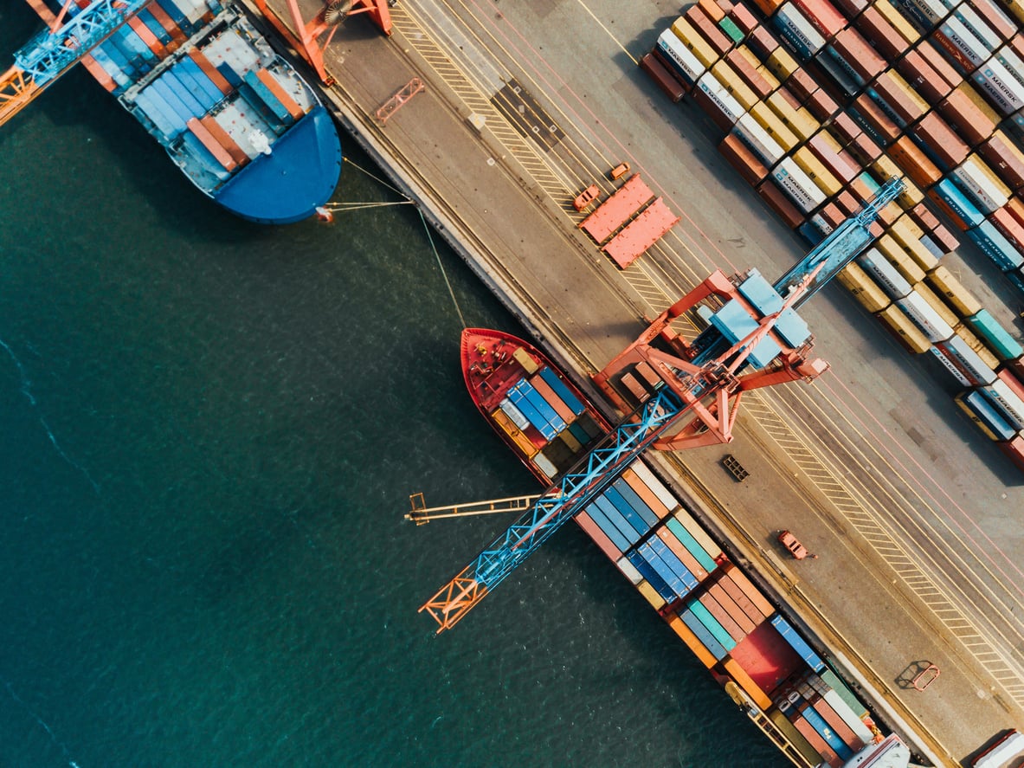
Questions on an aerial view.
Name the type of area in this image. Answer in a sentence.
The area seen from above is a port.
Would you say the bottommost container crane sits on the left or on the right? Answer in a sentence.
The bottommost container crane appears in the right half of the scene.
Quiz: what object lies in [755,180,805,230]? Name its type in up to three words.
shipping container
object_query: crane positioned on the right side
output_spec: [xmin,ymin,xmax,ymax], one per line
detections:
[419,170,913,636]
